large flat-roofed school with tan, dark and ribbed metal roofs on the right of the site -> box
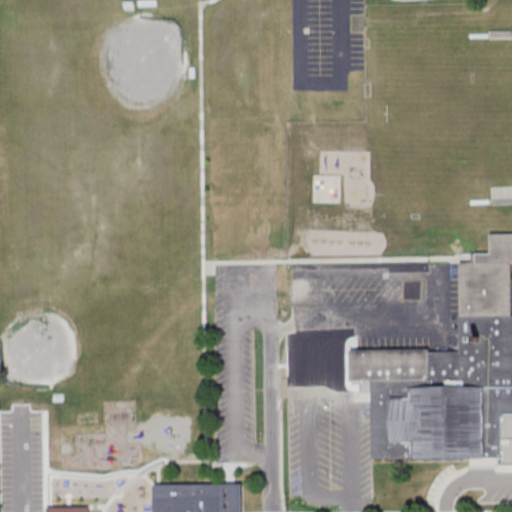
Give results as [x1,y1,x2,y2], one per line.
[349,234,512,466]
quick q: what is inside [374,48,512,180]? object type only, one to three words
sports field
